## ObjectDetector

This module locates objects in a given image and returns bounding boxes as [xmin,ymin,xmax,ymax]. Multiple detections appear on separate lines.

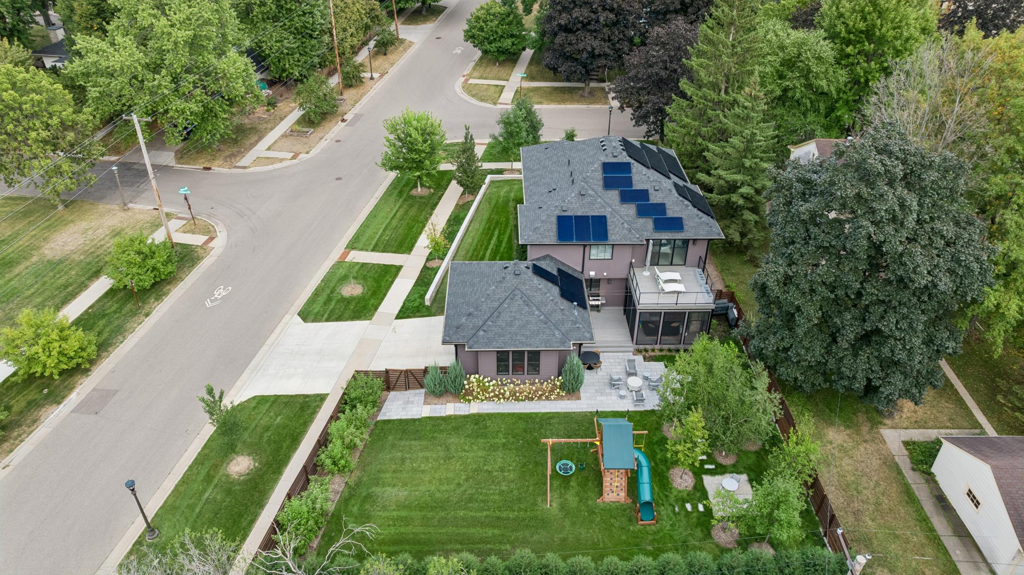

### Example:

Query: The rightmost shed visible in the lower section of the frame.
[931,430,1024,575]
